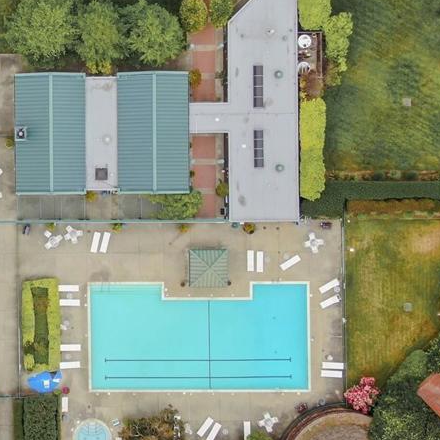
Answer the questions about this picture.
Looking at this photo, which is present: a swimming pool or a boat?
swimming pool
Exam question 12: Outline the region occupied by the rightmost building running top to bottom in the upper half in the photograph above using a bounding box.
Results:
[190,0,300,223]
